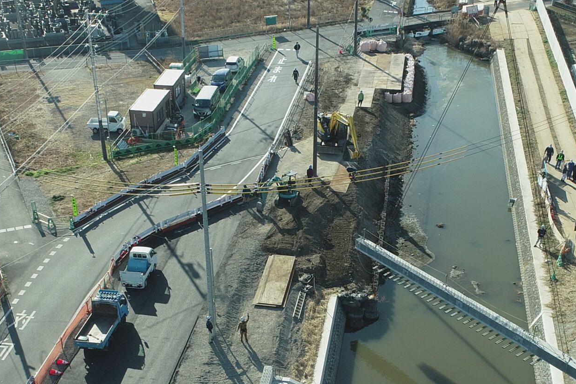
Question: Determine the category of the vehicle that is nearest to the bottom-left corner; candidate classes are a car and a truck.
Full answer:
The vehicle that is nearest to the bottom-left corner appears to be a truck.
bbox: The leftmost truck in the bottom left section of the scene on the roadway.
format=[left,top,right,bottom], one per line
[72,282,131,347]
